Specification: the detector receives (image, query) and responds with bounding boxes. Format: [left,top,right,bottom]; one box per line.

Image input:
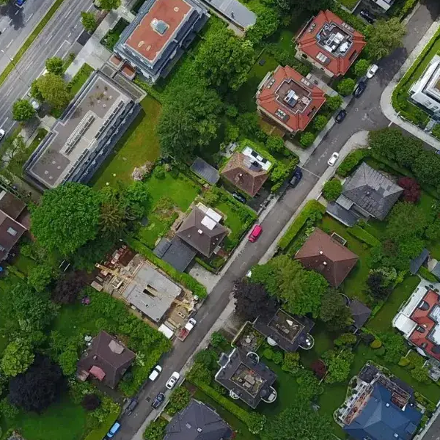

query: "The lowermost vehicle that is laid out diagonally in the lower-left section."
[107,422,120,438]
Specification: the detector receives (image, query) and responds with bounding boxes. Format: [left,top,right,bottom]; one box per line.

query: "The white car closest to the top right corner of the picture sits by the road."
[366,63,379,79]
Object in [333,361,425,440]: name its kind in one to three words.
house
